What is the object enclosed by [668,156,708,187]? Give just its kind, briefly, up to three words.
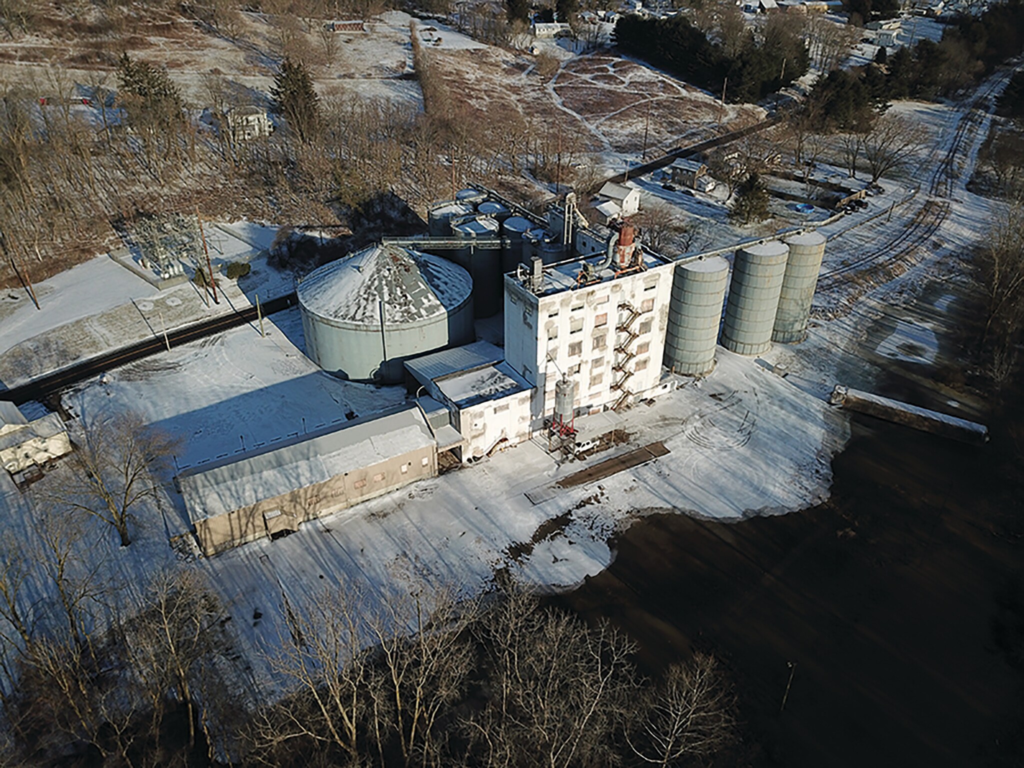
house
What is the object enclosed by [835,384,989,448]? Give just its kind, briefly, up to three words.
rail car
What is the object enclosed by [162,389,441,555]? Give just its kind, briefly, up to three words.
shed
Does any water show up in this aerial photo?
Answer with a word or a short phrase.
Yes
